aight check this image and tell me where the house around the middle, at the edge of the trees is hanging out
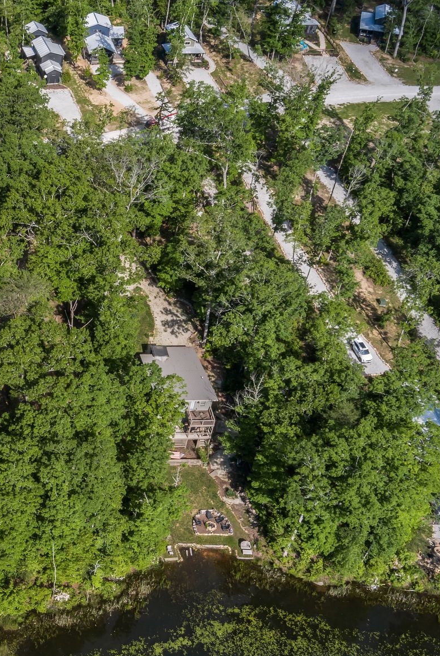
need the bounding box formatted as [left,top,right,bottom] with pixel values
[137,343,217,422]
